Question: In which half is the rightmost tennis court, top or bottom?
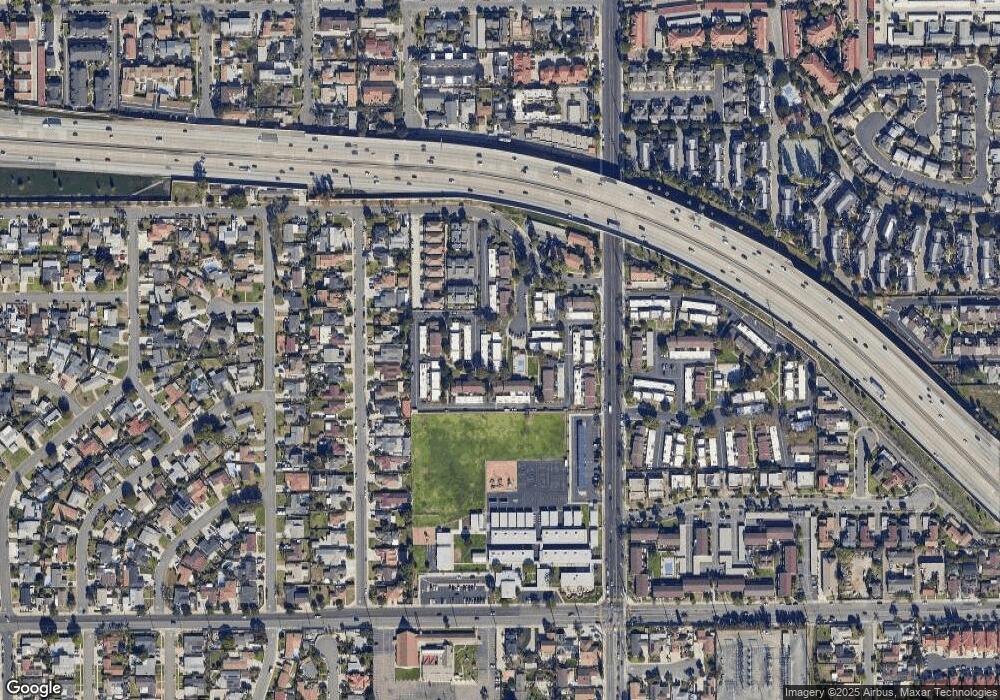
top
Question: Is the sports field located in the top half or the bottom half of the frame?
bottom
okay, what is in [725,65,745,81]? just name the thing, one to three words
house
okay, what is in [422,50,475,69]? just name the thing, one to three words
building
